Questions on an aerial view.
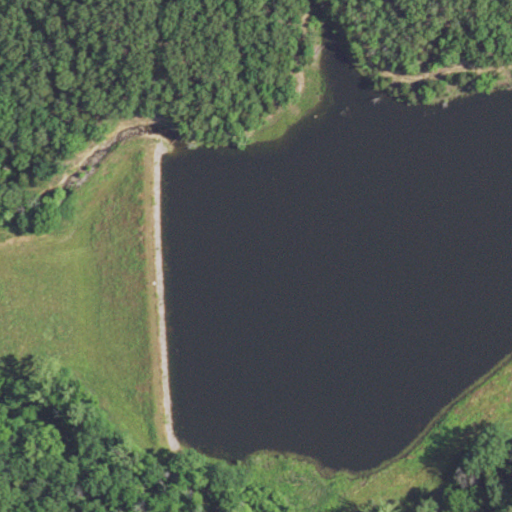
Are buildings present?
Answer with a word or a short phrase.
No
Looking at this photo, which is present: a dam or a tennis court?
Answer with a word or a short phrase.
dam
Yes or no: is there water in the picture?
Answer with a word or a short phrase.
Yes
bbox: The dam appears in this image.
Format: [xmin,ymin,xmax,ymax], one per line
[94,136,181,454]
